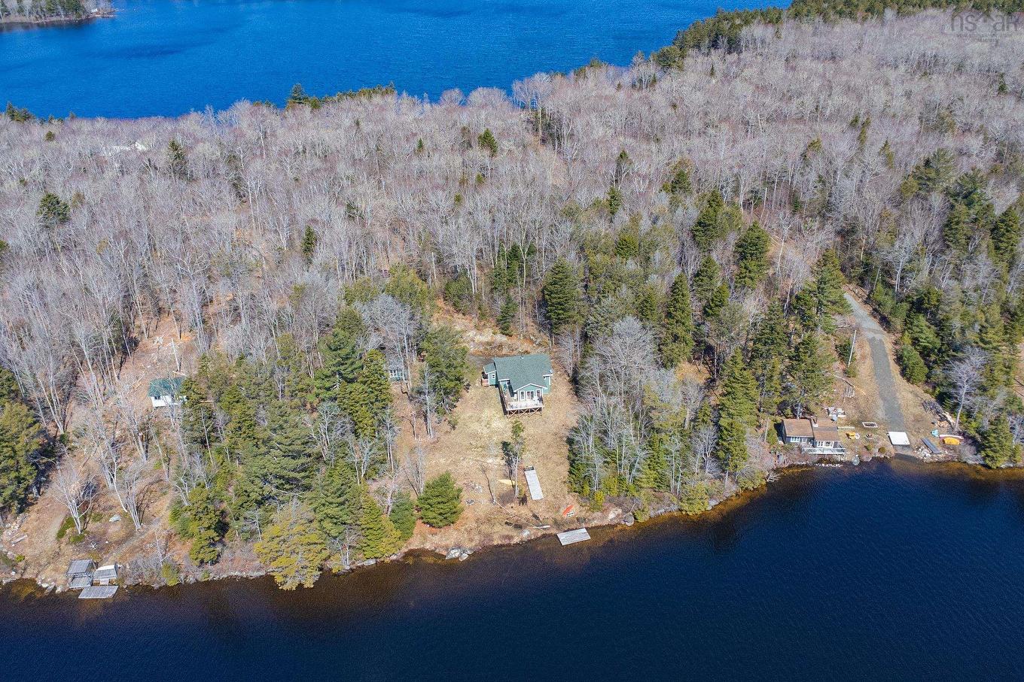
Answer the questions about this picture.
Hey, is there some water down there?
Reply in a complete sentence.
Yes, the picture does contain water.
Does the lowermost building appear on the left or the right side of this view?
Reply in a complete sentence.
The lowermost building is on the left side of the image.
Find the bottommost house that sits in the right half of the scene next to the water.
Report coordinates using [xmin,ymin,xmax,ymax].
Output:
[779,418,846,466]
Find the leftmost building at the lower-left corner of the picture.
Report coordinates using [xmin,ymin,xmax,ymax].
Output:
[62,555,101,590]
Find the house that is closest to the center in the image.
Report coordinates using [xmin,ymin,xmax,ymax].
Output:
[478,349,554,419]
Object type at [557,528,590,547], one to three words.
pier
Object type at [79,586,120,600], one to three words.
pier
